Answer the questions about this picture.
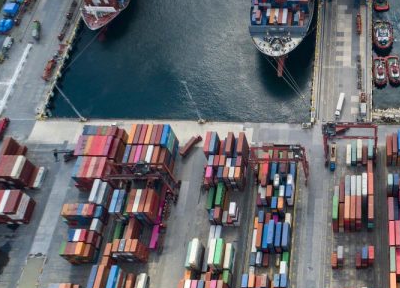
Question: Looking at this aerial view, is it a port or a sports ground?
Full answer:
This looks like a port.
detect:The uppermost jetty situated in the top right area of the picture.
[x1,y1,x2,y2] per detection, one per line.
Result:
[309,0,376,122]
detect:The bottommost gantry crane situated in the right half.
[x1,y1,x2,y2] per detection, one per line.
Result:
[248,146,310,186]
